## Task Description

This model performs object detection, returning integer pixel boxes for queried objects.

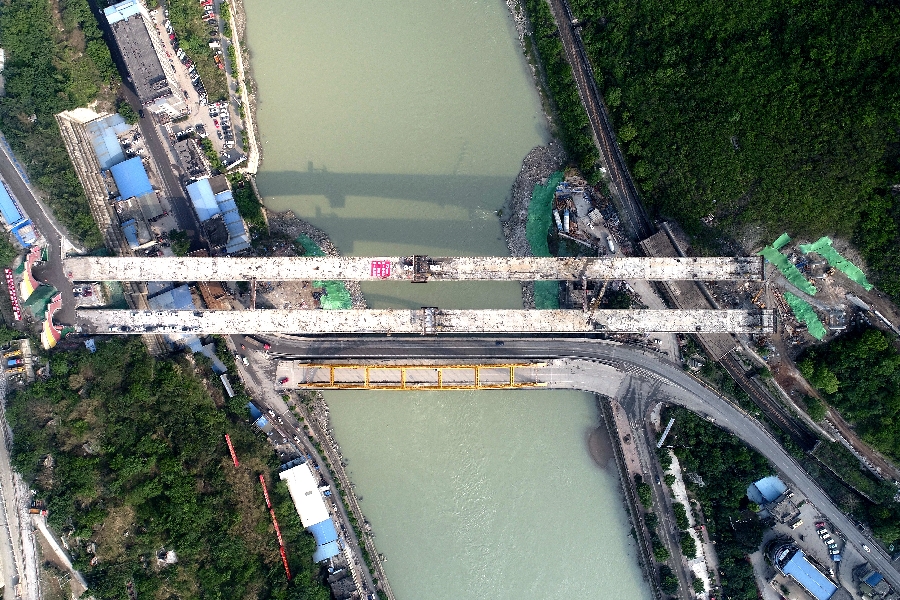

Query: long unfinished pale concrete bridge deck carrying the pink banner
[69,257,762,281]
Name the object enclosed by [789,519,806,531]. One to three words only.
vehicle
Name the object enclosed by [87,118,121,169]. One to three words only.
shed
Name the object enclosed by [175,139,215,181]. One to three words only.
house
